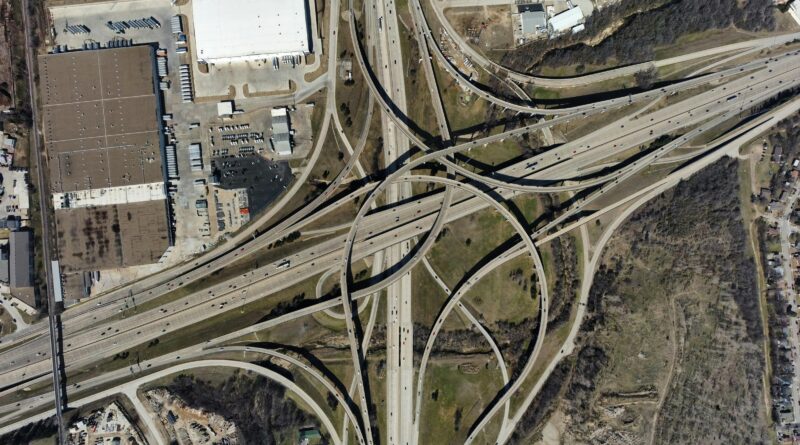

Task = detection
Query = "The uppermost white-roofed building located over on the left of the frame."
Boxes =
[193,0,312,65]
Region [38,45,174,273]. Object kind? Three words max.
warehouse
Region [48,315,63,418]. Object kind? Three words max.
bridge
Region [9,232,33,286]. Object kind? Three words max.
building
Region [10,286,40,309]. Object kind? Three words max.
building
